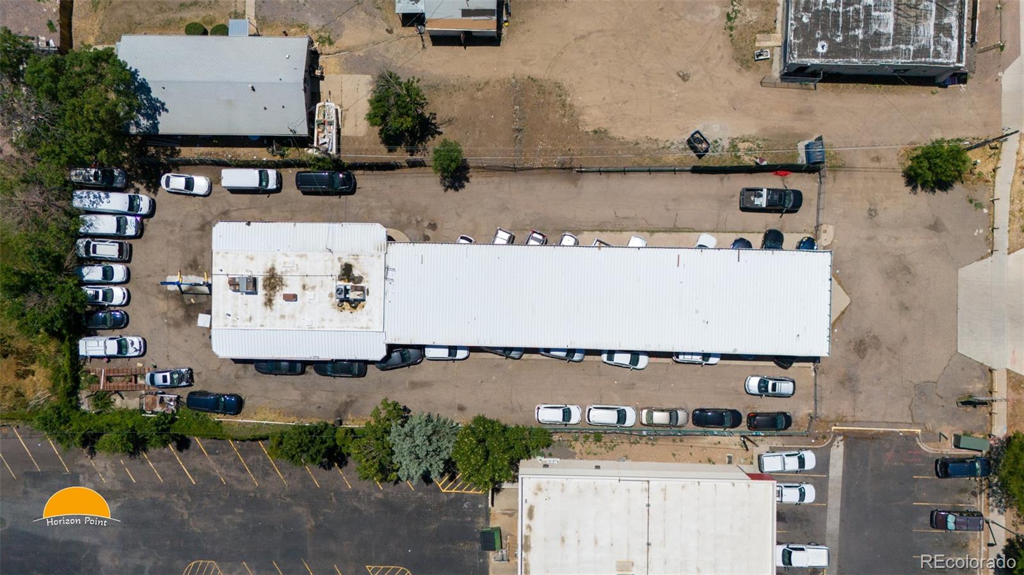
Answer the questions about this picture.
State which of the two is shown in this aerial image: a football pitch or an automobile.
automobile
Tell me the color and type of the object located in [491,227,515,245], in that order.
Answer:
white vehicle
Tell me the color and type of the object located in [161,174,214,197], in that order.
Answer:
white car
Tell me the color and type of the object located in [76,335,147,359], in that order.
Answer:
white truck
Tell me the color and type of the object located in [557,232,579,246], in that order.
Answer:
white car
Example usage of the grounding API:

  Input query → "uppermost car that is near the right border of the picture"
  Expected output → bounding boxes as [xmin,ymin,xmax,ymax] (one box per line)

[932,455,990,480]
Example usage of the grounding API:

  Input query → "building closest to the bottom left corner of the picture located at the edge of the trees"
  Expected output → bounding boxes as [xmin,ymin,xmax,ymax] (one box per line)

[211,221,387,362]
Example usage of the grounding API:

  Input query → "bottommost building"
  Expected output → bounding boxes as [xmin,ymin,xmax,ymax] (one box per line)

[519,461,776,575]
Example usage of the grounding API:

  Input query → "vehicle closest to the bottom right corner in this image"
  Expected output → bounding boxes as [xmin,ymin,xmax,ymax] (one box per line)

[927,508,986,532]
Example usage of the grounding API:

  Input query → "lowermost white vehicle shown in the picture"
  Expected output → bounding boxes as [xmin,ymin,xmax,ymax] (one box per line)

[776,542,830,568]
